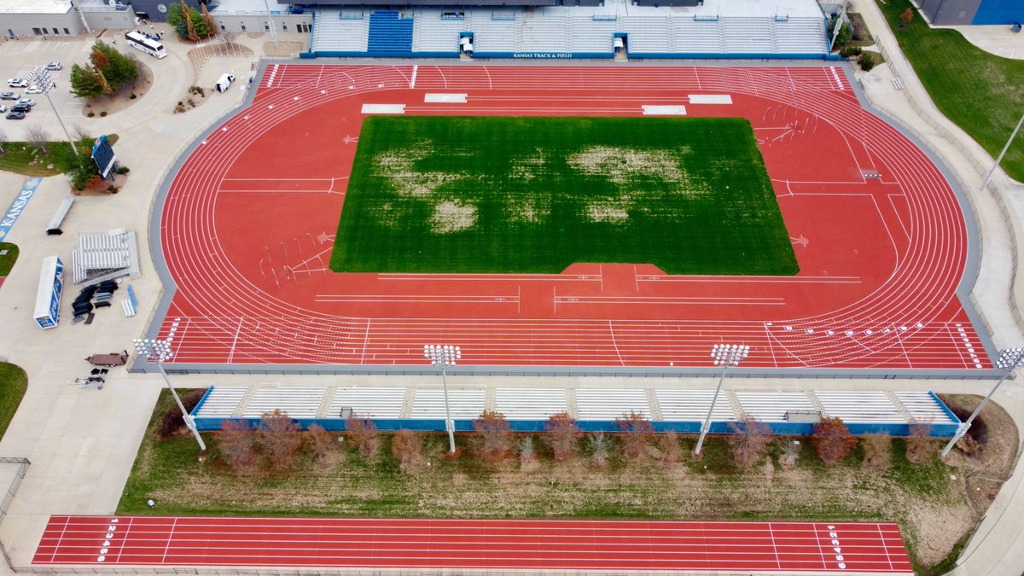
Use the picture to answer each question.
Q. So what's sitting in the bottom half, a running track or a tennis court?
running track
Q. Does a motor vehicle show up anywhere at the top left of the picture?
Yes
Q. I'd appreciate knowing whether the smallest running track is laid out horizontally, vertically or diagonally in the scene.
horizontally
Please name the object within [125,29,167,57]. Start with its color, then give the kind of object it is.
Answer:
white bus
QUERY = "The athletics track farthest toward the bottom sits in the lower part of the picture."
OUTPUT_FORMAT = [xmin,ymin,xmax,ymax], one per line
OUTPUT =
[29,514,915,572]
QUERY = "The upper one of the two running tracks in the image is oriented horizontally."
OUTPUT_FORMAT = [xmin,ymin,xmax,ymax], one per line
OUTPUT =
[128,59,1015,381]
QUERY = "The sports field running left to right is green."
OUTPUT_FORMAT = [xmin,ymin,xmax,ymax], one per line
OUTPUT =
[329,115,800,275]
